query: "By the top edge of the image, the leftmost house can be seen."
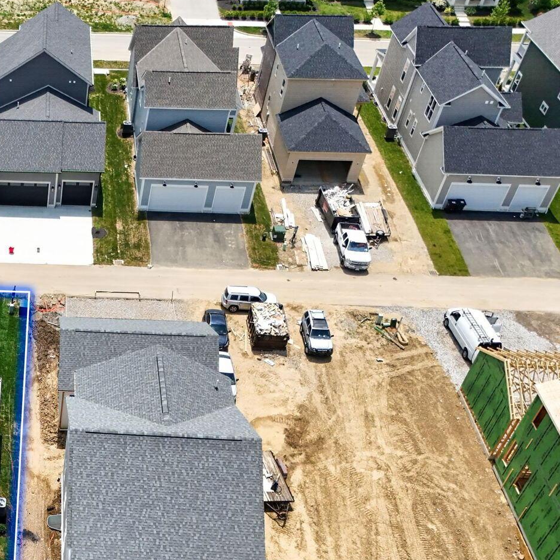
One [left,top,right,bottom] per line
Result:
[0,1,105,202]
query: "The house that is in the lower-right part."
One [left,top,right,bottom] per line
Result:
[458,352,560,560]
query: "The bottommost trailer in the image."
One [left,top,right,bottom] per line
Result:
[262,450,297,519]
